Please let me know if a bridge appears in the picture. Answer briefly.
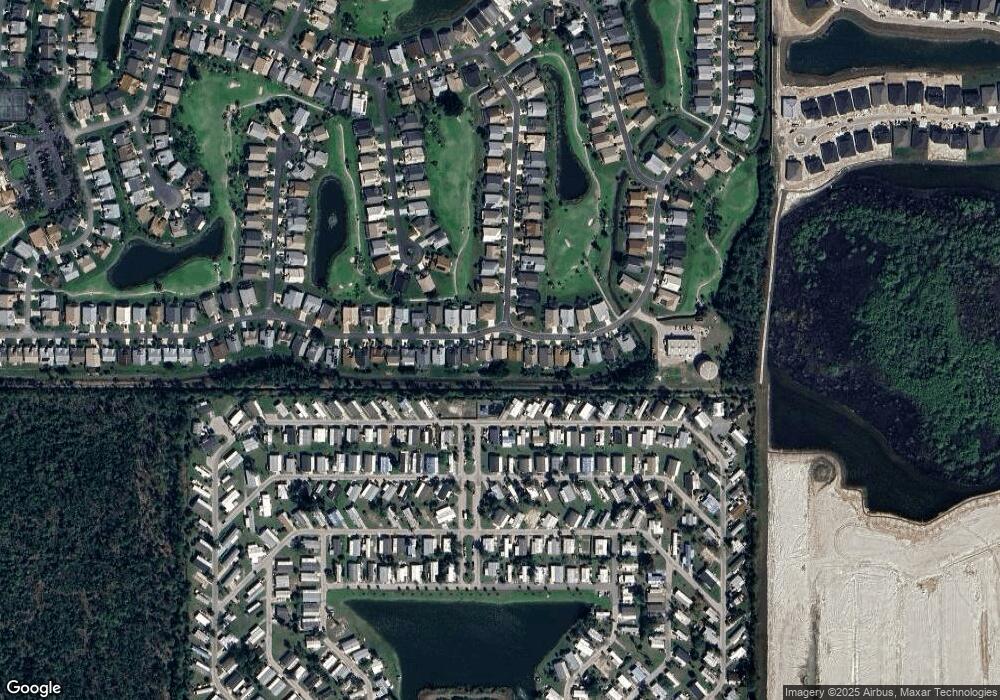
No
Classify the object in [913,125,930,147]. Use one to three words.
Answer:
house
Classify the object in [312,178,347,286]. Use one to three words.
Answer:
pond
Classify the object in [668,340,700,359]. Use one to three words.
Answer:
building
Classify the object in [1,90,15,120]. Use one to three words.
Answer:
tennis court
